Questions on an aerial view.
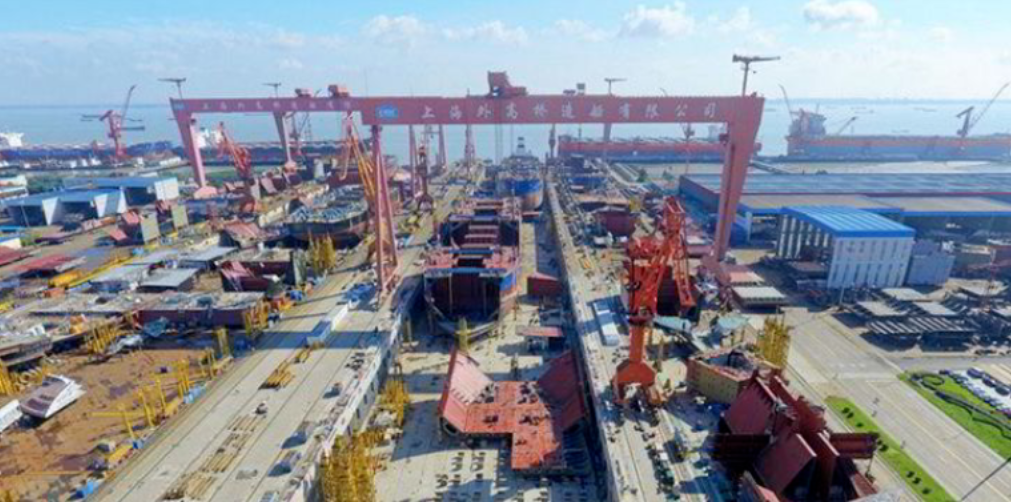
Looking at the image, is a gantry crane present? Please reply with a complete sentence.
Yes, the frame does contain a gantry crane.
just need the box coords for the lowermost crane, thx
[606,194,700,406]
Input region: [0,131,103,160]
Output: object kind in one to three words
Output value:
ship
